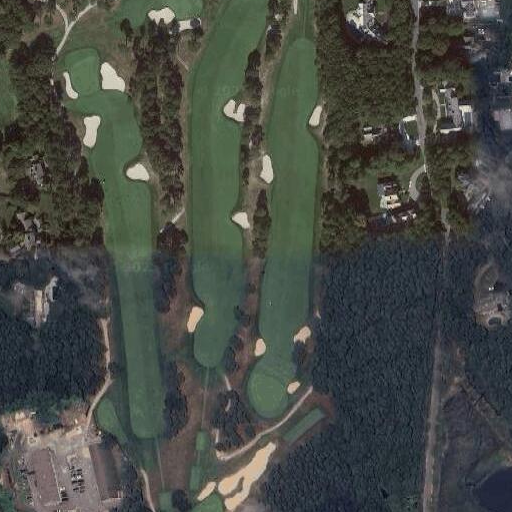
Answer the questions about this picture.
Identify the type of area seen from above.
golf course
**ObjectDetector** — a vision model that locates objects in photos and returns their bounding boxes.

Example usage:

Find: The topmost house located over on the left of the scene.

[25,158,48,185]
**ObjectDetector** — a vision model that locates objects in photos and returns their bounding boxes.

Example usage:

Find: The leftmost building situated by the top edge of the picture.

[358,0,384,39]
